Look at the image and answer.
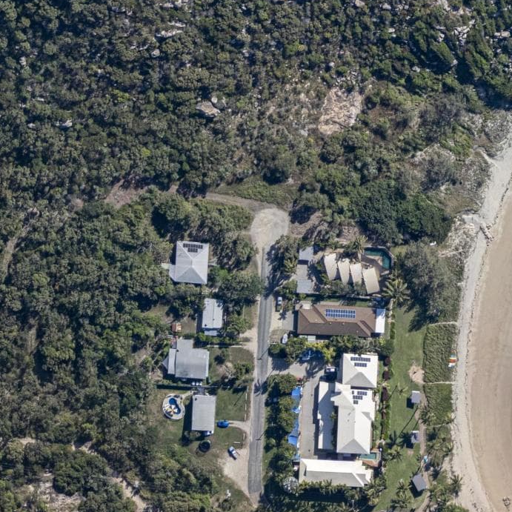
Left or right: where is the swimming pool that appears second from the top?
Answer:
left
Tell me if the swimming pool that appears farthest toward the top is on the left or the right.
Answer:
right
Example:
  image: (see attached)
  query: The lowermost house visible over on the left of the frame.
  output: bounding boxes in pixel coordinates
[191,395,217,431]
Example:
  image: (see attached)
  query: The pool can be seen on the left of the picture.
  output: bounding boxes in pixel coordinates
[162,394,185,419]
